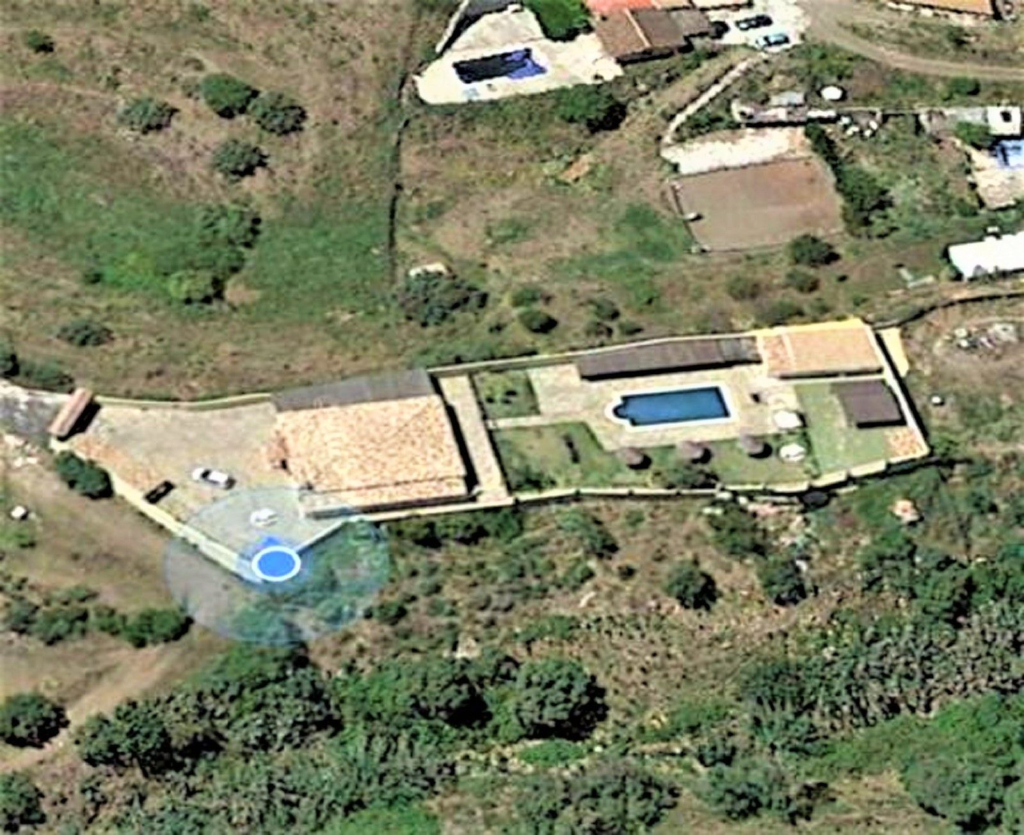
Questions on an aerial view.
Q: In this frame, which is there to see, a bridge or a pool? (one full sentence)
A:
The image shows a pool.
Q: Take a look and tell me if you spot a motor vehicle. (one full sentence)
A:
Yes, the image includes a motor vehicle.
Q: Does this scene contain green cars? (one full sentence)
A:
No, the photo shows no green car.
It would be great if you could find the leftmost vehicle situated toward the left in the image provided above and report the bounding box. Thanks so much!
[142,475,178,508]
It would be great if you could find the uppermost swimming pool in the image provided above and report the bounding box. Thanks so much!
[453,49,535,84]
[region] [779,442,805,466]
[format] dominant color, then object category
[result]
white umbrella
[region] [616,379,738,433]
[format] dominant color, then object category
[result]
blue swimming pool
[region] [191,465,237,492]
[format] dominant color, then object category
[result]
white car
